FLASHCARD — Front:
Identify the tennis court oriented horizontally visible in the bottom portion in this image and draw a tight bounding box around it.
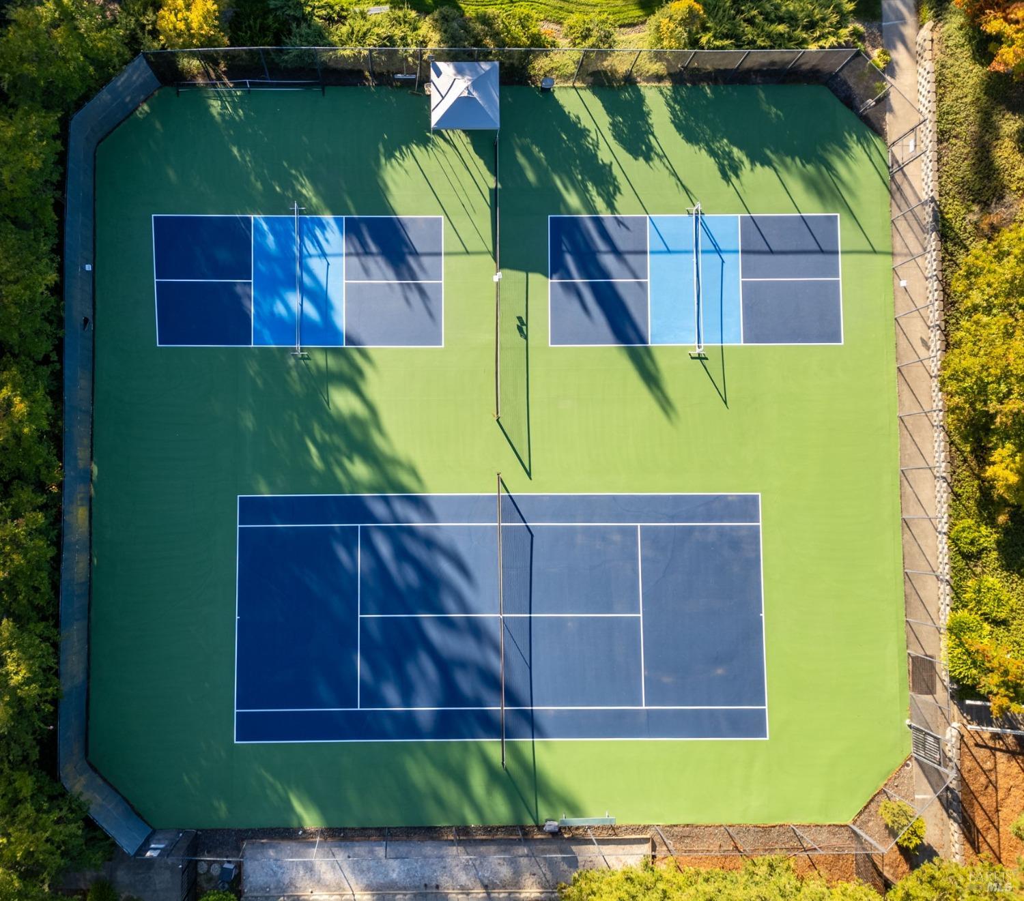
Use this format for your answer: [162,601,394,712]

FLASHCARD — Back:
[236,493,768,742]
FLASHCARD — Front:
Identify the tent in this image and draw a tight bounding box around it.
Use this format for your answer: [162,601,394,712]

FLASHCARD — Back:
[429,61,500,147]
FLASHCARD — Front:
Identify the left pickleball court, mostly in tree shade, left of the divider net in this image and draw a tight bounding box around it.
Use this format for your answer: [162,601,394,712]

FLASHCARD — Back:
[152,215,444,347]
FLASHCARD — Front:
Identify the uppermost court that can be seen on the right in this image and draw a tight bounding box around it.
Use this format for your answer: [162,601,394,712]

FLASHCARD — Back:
[549,214,843,346]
